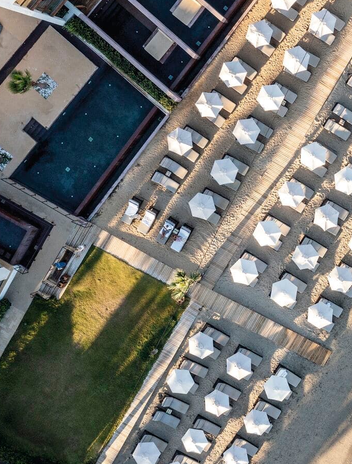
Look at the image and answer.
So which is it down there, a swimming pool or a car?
swimming pool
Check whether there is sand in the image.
Yes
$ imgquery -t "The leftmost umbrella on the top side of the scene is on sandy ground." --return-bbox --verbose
[168,127,195,156]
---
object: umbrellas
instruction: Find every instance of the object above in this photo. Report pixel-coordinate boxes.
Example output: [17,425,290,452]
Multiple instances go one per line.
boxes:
[189,330,216,360]
[268,0,295,12]
[277,179,307,207]
[234,120,260,147]
[300,143,330,171]
[212,158,242,184]
[290,240,318,267]
[224,445,250,464]
[313,206,341,231]
[328,264,352,293]
[307,299,337,328]
[263,373,292,402]
[286,47,314,76]
[220,58,246,88]
[135,438,161,464]
[246,19,275,47]
[226,350,255,379]
[203,391,232,417]
[180,425,209,455]
[255,222,283,249]
[335,168,352,195]
[257,83,286,111]
[309,10,338,37]
[230,256,257,285]
[190,193,218,218]
[168,127,195,156]
[168,368,198,397]
[195,91,223,121]
[269,277,299,306]
[246,405,274,436]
